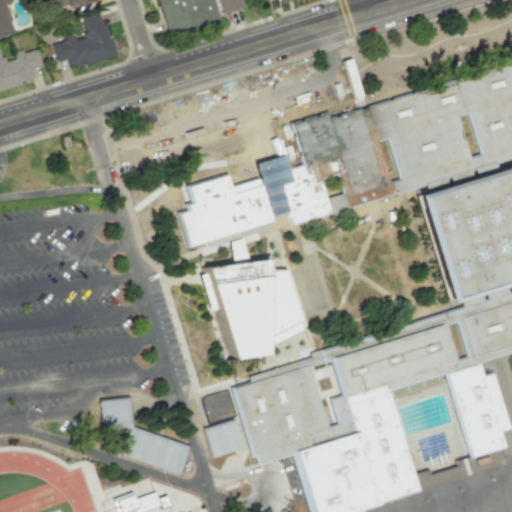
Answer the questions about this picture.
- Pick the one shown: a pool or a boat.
pool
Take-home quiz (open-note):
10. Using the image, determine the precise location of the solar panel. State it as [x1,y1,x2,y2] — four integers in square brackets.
[420,434,449,460]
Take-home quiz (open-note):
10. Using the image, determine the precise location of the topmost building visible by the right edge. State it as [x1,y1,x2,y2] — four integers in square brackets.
[366,66,512,194]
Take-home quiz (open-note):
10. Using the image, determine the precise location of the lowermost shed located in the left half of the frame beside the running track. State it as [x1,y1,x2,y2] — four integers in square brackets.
[100,396,190,475]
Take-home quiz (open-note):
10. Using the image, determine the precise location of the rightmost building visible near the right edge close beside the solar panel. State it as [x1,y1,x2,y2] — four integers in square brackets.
[444,365,512,460]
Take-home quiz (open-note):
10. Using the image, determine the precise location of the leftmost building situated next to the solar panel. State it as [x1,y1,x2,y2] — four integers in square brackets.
[292,386,422,512]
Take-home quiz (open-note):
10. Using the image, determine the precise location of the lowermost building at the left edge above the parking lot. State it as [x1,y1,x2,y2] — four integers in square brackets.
[0,44,47,94]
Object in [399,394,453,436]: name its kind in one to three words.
swimming pool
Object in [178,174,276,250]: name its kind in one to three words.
building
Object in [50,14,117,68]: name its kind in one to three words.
house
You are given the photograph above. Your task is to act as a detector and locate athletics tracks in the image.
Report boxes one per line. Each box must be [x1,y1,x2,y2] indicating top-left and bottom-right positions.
[0,454,96,512]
